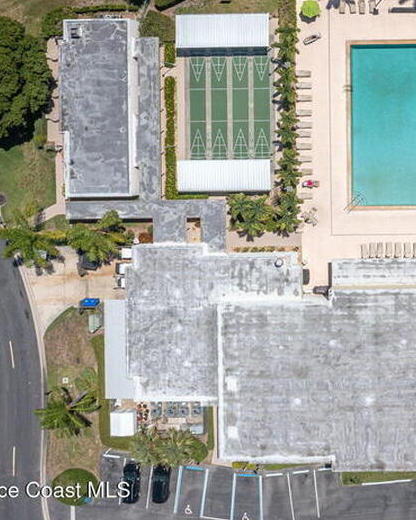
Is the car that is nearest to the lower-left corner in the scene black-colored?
Yes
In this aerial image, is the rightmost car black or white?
black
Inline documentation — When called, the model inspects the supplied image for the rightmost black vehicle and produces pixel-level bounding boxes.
[149,465,171,505]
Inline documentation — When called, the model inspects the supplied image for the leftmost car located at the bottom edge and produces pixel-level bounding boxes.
[120,464,142,505]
